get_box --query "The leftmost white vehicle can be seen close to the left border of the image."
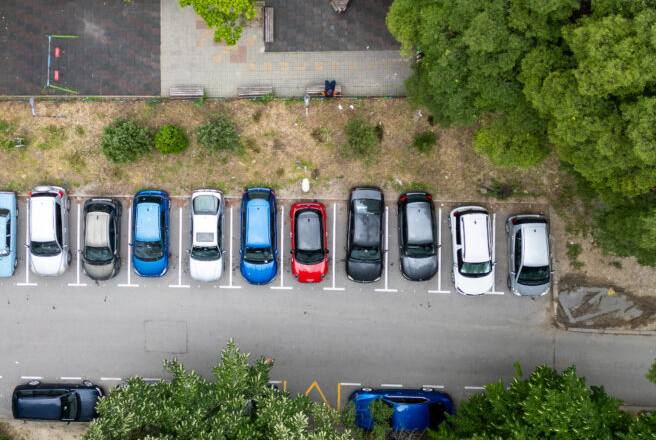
[25,186,71,276]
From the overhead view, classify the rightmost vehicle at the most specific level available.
car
